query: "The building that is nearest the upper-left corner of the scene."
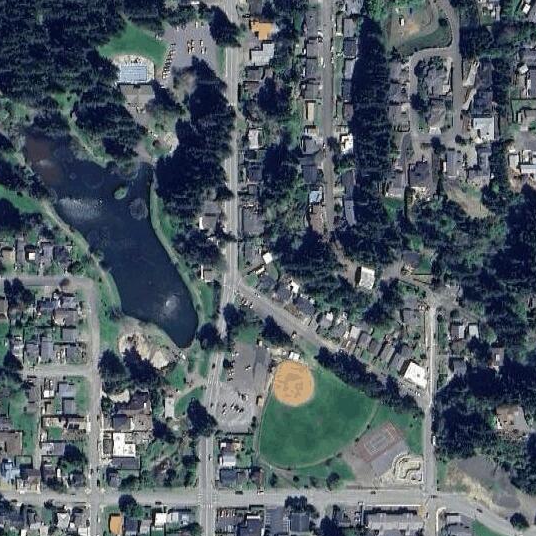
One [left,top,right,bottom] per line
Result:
[120,84,155,113]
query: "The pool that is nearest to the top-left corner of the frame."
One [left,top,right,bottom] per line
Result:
[118,66,147,83]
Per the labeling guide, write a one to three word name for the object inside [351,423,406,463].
basketball court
